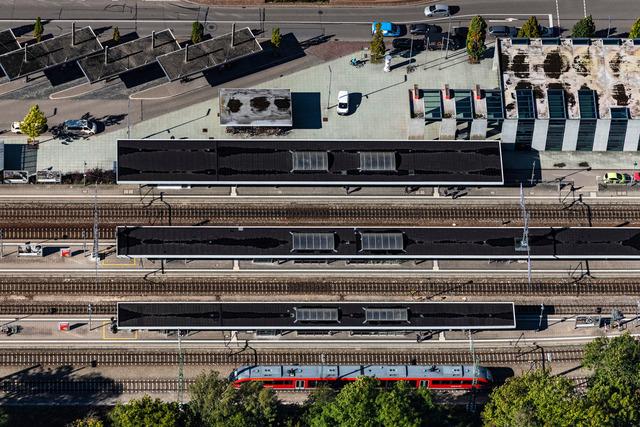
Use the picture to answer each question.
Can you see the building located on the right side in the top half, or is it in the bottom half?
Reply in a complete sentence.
The top half of the photo is where the building located on the right side is.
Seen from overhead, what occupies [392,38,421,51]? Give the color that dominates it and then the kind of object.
black vehicle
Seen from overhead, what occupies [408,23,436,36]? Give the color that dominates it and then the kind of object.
black vehicle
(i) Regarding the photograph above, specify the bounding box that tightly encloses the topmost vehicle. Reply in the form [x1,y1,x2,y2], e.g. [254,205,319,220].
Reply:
[424,3,450,16]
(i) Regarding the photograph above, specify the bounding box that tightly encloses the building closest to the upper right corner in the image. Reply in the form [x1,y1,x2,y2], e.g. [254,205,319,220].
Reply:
[408,36,640,150]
